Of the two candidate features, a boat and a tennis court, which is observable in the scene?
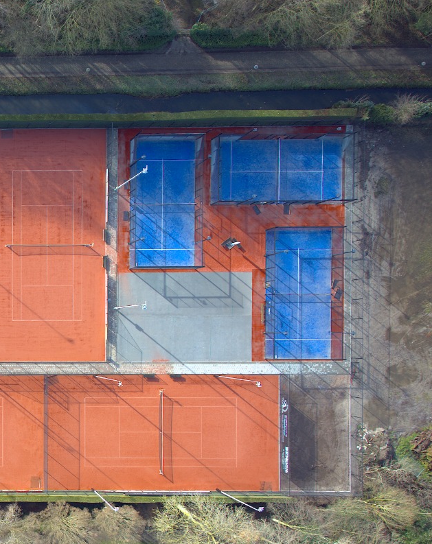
tennis court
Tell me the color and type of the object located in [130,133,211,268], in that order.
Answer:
blue sports court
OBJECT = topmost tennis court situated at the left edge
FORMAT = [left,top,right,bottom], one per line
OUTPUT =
[0,129,107,363]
